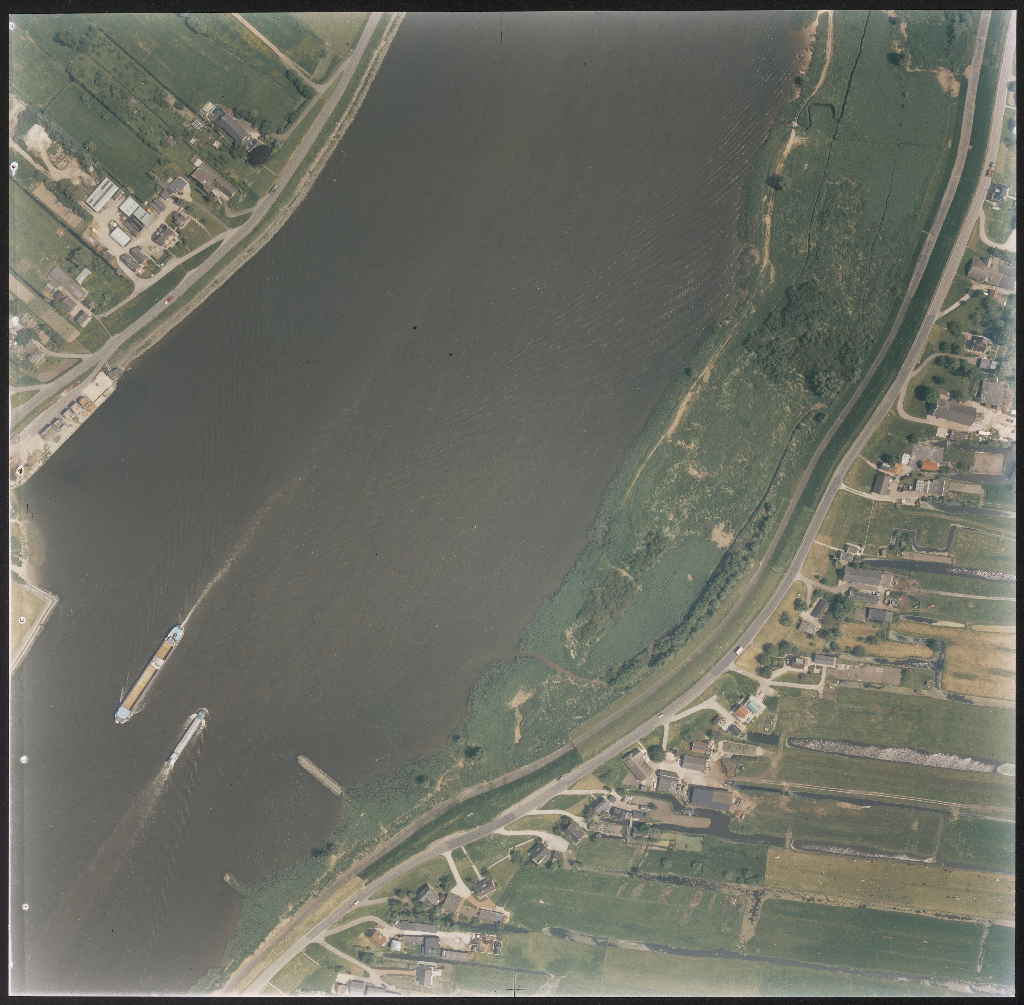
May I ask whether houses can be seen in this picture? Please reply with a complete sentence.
Yes, a house is visible in the scene.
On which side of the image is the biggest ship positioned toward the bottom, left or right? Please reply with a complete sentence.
The biggest ship positioned toward the bottom is on the left side of the image.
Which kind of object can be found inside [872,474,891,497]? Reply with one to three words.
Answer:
barn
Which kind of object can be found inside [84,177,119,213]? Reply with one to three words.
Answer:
building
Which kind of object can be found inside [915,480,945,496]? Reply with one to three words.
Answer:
greenhouse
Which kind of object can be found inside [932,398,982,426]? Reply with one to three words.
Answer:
house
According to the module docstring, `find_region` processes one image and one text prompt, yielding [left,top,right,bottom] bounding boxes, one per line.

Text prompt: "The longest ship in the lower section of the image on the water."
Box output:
[113,624,185,723]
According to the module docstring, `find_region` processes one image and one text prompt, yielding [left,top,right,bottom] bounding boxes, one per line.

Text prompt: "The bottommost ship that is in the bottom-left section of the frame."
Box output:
[168,710,204,766]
